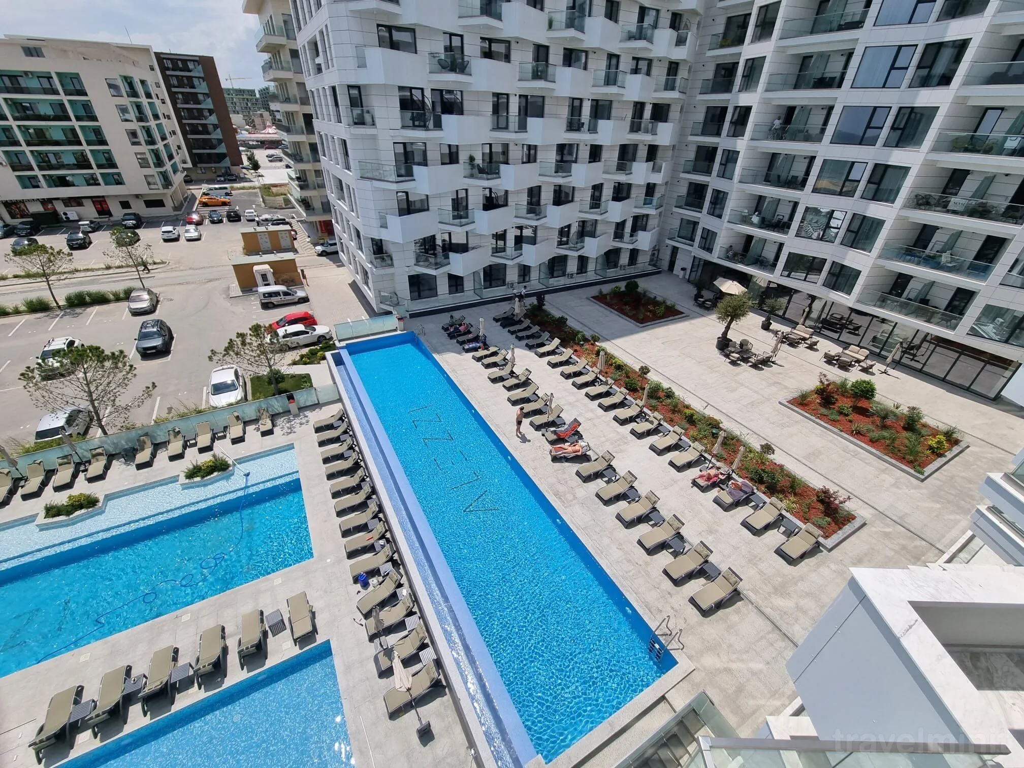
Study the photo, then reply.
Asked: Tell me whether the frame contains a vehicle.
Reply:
Yes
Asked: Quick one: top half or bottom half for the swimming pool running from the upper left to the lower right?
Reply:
bottom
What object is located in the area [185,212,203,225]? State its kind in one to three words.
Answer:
vehicle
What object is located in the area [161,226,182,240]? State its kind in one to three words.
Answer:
car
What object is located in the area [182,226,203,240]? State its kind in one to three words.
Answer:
car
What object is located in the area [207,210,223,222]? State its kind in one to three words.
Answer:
vehicle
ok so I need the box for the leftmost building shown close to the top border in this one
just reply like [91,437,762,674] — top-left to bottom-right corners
[0,5,195,224]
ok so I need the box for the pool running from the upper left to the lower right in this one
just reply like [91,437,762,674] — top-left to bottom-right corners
[347,333,675,764]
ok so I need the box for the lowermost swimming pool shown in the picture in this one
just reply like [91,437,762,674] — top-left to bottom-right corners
[105,654,355,768]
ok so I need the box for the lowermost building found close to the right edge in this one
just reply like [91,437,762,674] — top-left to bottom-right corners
[701,441,1024,768]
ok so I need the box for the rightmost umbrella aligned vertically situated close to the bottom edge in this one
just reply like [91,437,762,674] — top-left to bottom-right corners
[411,694,433,742]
